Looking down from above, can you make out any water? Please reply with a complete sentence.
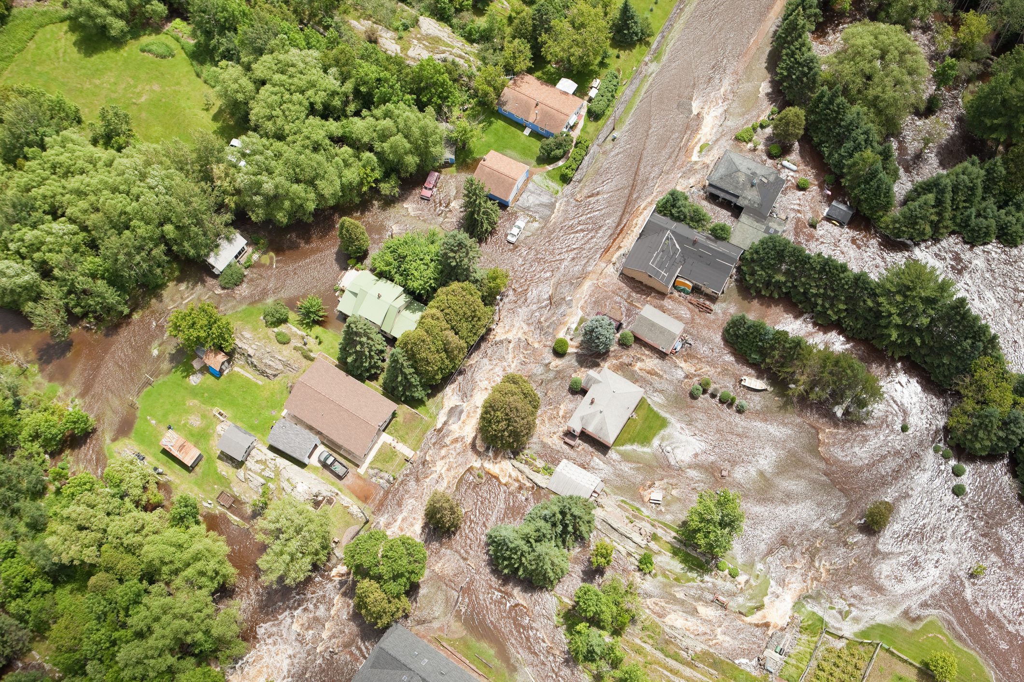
Yes, water shows up in the scene.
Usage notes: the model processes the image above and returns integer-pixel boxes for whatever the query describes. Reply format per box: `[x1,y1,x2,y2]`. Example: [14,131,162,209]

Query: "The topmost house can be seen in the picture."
[500,72,583,135]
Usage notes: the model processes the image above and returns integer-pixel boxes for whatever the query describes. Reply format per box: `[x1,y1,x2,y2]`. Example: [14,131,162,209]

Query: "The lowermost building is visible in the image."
[354,626,480,682]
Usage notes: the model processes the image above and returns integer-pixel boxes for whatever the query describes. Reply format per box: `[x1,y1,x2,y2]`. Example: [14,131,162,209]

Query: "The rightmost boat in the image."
[738,374,769,389]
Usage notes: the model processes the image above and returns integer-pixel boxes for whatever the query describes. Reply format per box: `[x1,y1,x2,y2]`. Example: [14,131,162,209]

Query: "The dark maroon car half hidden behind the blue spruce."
[595,311,627,335]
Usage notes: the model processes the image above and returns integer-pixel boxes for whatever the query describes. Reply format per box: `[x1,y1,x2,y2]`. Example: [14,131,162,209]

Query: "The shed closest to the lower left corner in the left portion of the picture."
[159,430,205,469]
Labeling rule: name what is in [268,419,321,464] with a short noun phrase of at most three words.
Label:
building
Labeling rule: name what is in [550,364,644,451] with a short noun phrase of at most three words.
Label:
house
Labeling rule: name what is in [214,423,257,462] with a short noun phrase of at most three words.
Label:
shed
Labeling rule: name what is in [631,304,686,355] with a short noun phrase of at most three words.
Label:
shed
